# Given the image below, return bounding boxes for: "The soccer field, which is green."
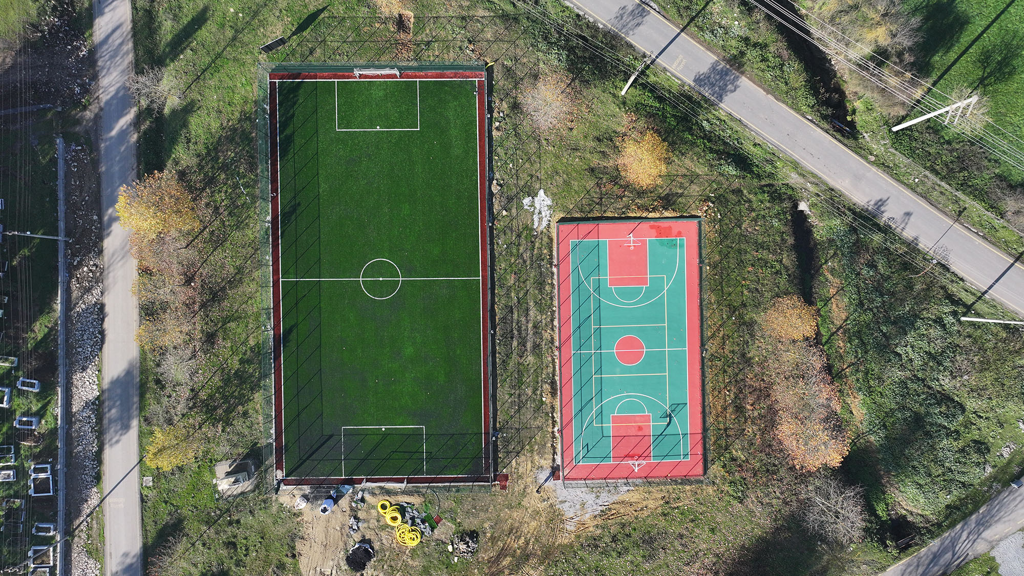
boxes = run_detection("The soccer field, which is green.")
[268,72,493,487]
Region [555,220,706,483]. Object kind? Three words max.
basketball court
